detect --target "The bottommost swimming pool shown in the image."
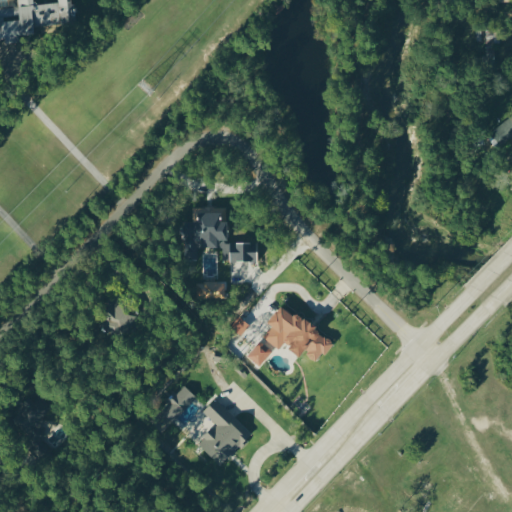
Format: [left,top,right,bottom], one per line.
[50,424,67,446]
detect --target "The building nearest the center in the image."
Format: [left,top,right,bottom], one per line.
[230,242,258,262]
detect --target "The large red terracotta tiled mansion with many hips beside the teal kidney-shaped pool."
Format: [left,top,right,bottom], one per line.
[264,308,333,362]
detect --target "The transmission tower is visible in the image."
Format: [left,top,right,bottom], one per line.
[139,79,154,96]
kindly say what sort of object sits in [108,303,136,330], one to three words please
house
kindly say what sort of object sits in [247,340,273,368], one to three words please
building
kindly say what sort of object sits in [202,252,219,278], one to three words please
swimming pool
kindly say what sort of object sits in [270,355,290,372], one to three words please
swimming pool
